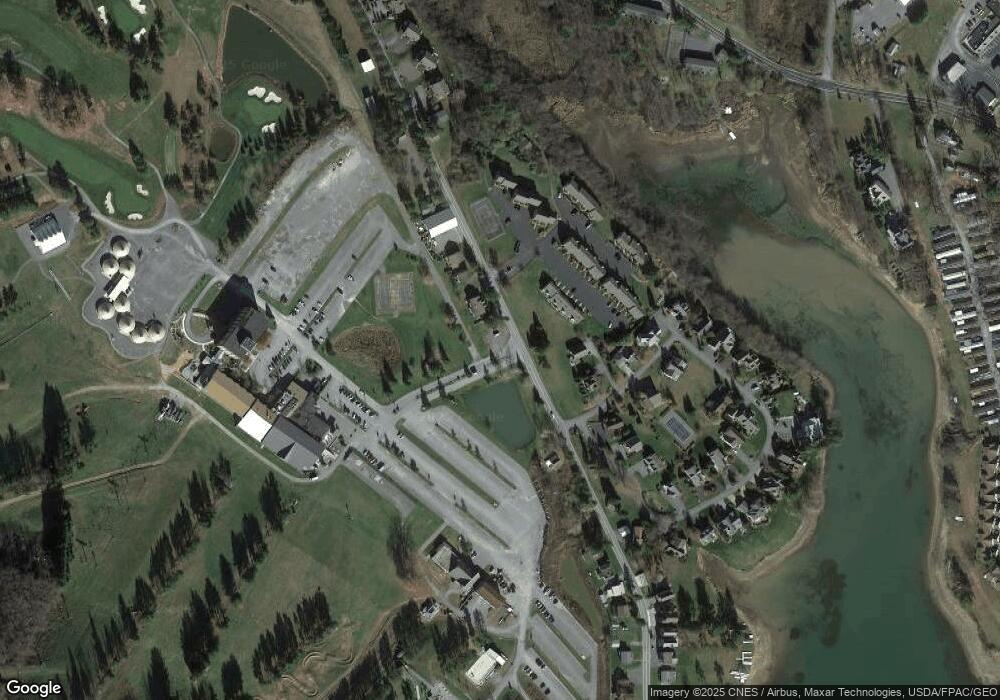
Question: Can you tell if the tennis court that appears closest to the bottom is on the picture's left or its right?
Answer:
right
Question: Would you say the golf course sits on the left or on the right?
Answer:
left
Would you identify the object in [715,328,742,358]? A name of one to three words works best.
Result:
house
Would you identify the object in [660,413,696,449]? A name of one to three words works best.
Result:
tennis court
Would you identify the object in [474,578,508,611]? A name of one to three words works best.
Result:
building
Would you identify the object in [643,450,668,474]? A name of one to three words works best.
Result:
house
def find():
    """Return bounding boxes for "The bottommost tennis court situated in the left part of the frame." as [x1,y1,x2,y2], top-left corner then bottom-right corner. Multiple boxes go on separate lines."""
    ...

[375,273,413,314]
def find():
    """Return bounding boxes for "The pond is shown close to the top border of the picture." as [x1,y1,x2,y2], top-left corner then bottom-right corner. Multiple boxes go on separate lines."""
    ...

[222,5,328,105]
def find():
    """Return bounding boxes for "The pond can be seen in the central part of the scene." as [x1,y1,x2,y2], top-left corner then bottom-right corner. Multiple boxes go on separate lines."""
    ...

[458,380,537,450]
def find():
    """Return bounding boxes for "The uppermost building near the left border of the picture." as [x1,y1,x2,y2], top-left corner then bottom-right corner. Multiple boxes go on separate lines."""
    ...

[32,220,66,253]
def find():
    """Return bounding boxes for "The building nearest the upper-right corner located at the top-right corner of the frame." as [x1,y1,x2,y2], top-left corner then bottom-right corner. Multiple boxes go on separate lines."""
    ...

[969,16,1000,48]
